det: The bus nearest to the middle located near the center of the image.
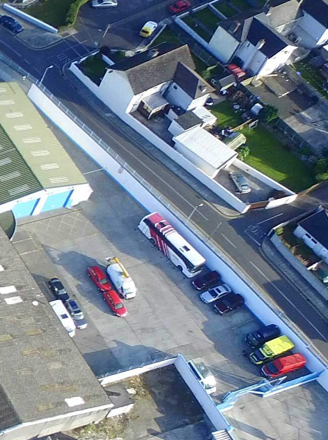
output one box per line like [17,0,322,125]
[133,214,205,279]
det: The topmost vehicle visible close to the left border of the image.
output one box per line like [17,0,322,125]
[0,19,22,34]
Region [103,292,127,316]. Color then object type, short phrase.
red car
